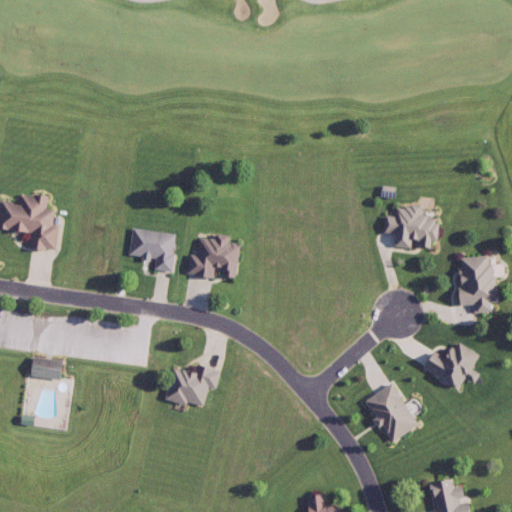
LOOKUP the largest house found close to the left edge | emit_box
[1,194,57,251]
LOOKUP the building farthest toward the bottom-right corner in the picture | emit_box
[430,479,472,512]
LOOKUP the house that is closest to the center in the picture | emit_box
[186,235,242,280]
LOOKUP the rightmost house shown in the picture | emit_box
[460,256,496,314]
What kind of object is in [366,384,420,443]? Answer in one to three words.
house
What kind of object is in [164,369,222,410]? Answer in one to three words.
house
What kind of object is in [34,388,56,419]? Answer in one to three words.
swimming pool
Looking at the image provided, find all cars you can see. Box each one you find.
[338,368,348,377]
[211,356,218,366]
[374,309,380,320]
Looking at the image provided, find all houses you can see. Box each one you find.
[164,369,222,410]
[421,345,483,396]
[386,197,442,250]
[186,235,242,280]
[460,256,496,314]
[129,229,176,272]
[306,494,338,512]
[366,384,420,443]
[430,479,472,512]
[1,194,57,251]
